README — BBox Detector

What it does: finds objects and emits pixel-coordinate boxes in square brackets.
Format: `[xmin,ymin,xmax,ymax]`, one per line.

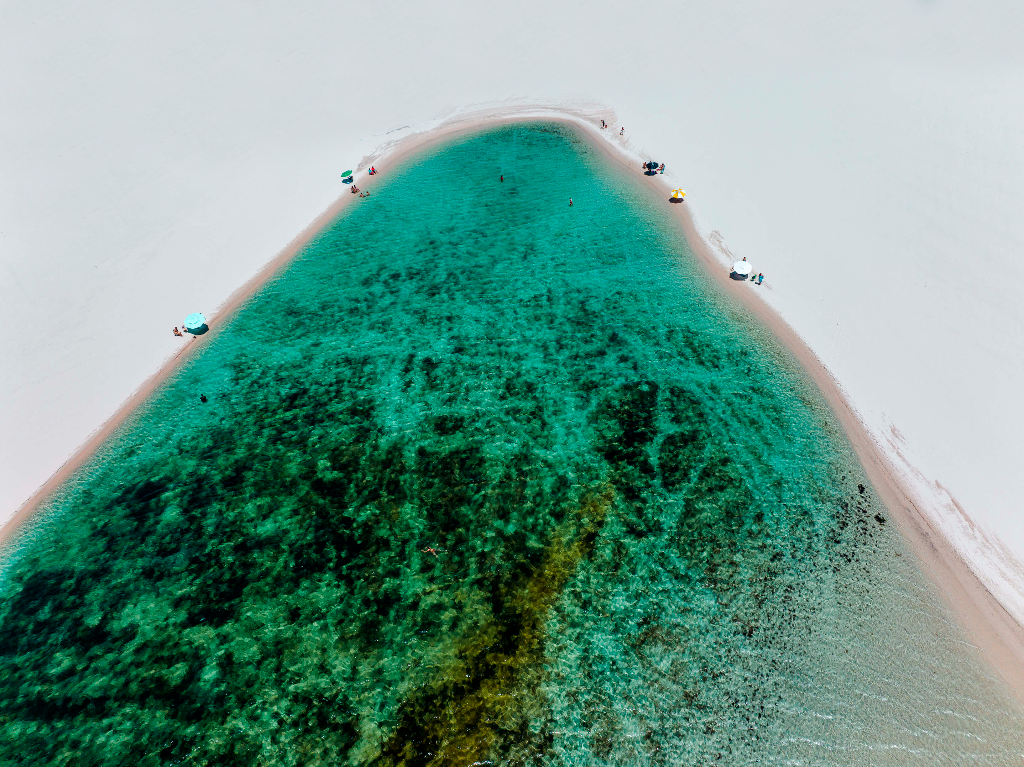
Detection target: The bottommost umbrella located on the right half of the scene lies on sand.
[733,260,753,278]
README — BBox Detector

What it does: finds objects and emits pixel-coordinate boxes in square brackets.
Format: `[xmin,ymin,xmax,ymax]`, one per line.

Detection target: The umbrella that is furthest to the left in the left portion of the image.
[183,313,207,332]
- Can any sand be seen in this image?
Yes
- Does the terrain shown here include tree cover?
No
